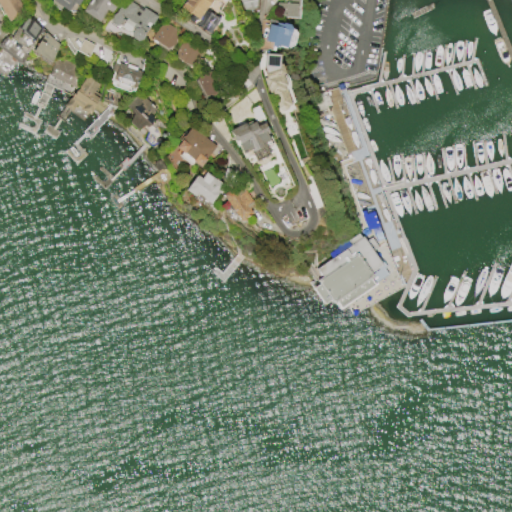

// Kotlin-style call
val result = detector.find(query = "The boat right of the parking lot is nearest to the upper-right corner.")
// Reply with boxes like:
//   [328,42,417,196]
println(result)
[483,8,497,36]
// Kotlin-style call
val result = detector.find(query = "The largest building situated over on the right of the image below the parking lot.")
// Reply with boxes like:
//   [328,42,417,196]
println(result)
[312,234,390,309]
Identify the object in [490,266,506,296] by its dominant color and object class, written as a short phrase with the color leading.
white boat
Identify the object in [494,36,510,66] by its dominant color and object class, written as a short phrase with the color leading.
white boat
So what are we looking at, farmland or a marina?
marina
